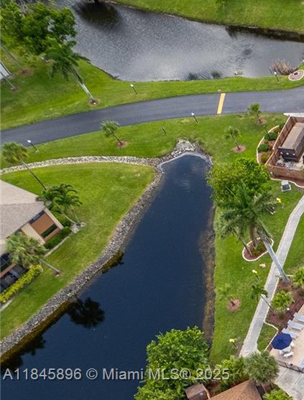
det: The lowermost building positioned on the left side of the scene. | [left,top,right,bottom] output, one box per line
[0,185,70,271]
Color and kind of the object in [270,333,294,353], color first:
blue umbrella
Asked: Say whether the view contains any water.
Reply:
Yes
